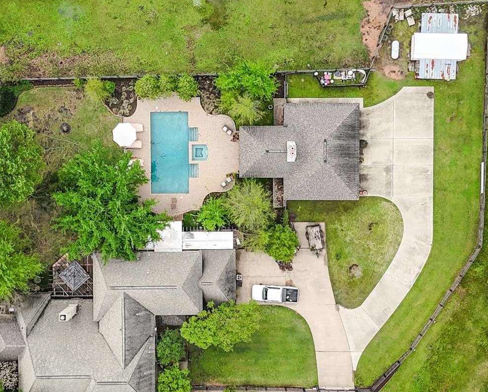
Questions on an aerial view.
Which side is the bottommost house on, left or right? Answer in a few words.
left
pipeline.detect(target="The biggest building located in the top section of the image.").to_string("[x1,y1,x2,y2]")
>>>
[238,102,360,201]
